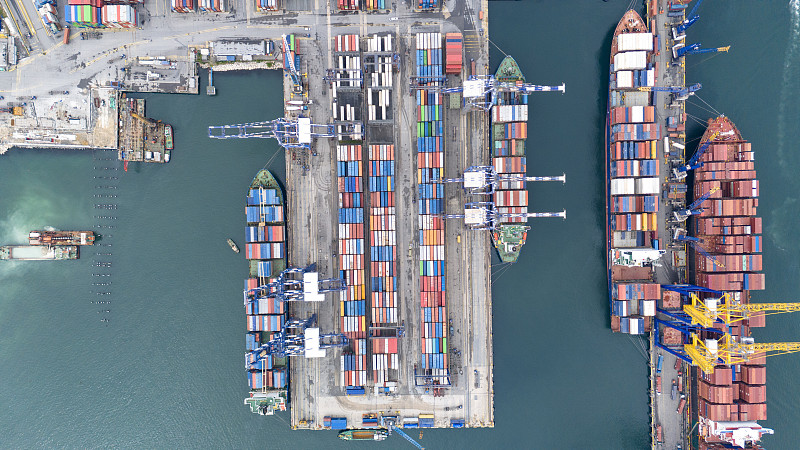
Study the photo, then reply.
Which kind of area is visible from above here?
port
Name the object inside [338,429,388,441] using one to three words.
boat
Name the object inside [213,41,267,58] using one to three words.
building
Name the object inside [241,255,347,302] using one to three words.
container crane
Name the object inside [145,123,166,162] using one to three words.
ship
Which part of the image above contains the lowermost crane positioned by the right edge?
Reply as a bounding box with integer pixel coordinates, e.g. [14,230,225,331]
[655,314,800,371]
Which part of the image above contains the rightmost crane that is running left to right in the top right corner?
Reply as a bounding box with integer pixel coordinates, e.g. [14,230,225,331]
[668,33,733,62]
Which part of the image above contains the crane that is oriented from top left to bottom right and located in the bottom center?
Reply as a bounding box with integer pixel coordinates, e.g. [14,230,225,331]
[379,411,427,450]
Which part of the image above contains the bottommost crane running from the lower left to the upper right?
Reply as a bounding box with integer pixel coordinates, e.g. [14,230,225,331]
[669,185,722,225]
